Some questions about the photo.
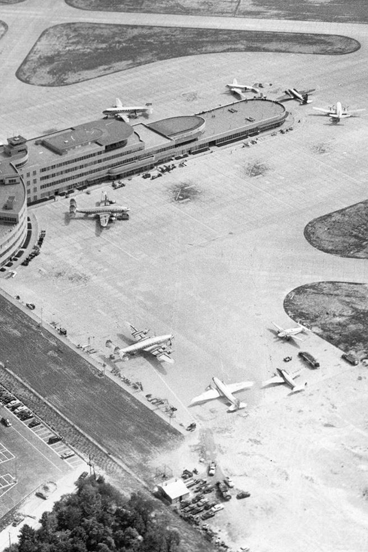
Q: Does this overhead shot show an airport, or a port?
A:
airport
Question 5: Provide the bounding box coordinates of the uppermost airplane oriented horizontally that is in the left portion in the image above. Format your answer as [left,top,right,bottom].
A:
[96,98,151,121]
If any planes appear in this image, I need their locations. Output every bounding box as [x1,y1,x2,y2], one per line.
[114,319,185,363]
[274,322,309,344]
[257,367,310,394]
[223,78,262,95]
[310,99,363,115]
[186,375,257,410]
[72,190,133,225]
[270,86,317,104]
[96,98,151,121]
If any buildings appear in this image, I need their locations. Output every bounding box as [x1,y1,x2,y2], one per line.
[157,478,191,506]
[0,99,287,274]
